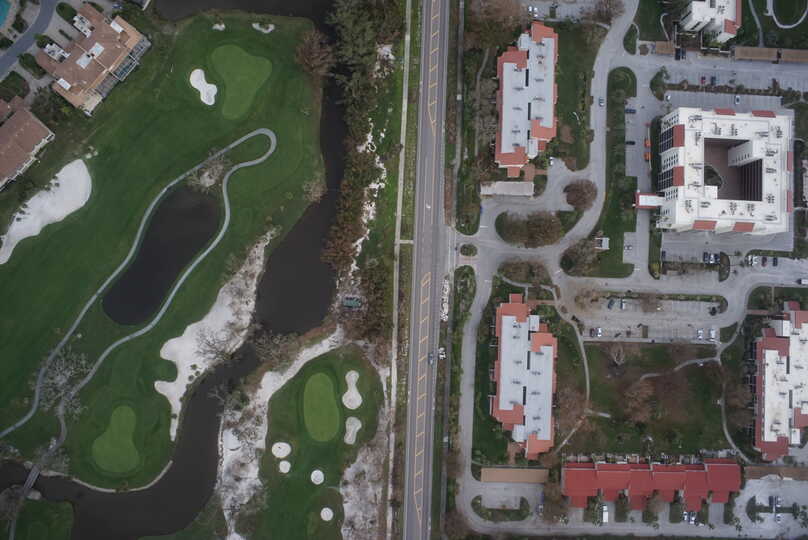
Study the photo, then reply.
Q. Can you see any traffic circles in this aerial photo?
No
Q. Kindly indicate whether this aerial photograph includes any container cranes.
No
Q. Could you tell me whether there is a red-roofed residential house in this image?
Yes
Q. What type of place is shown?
golf course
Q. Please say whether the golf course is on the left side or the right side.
left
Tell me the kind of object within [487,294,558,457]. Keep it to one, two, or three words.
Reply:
building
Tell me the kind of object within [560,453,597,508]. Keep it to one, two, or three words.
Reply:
house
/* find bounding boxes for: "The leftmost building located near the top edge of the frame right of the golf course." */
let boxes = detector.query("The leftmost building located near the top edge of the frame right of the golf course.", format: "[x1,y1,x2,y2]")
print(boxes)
[488,21,559,179]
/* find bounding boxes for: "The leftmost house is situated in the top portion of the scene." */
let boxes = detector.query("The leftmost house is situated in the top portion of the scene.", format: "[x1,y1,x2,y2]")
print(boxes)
[0,96,58,189]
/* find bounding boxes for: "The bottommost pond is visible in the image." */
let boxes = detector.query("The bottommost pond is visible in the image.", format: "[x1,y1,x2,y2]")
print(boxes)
[103,188,222,326]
